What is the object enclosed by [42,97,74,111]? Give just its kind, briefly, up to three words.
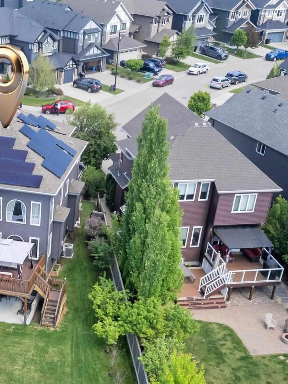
car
